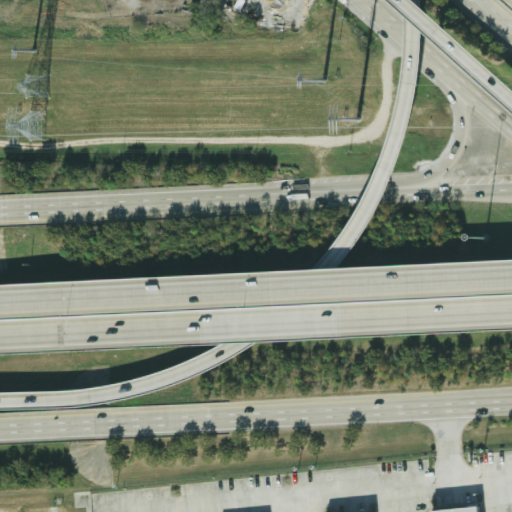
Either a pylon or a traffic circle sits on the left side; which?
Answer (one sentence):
There is a pylon on the left side.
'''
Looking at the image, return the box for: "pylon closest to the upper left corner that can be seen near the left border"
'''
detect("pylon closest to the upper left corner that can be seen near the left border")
[17,75,52,100]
